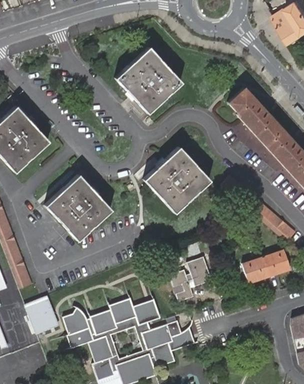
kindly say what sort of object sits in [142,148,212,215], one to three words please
building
